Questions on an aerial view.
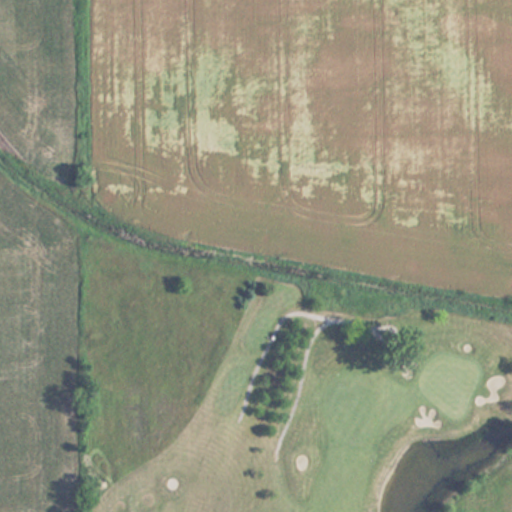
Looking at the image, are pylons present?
No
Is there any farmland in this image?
Yes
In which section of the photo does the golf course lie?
bottom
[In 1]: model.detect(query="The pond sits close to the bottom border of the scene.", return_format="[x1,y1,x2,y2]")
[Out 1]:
[380,418,512,512]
